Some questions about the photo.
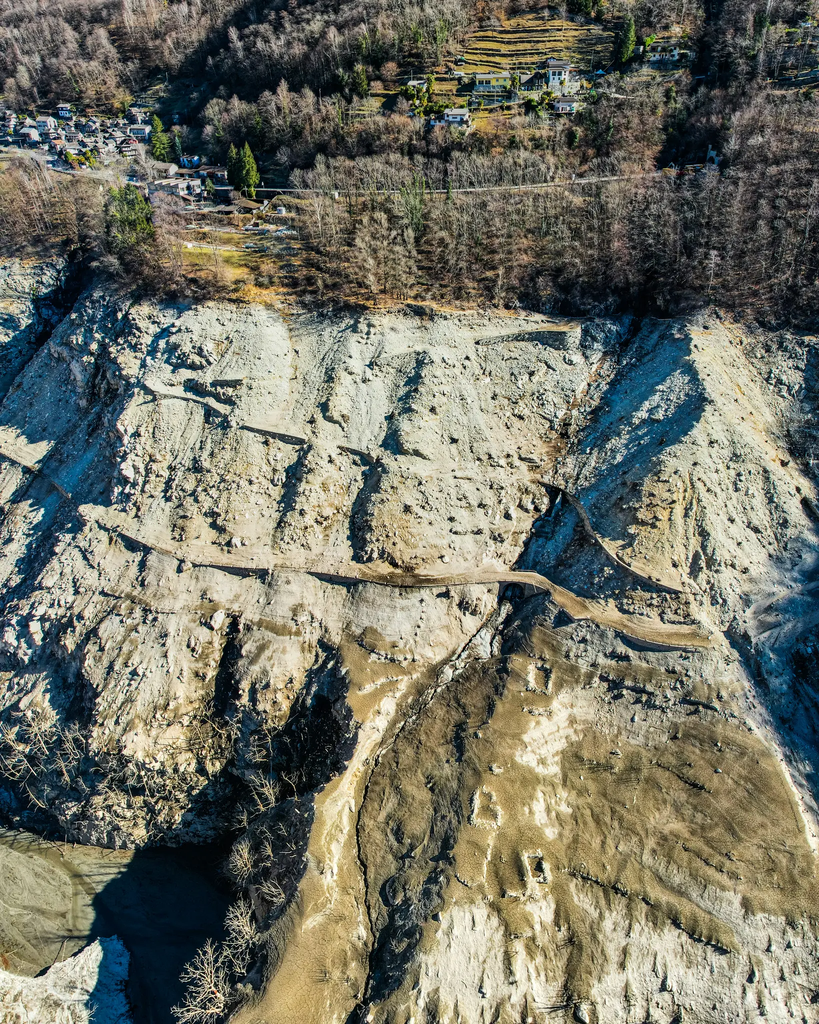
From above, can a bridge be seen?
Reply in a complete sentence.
Yes, looking at the shot, I can spot a bridge.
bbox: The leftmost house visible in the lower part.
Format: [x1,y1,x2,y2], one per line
[471,783,508,836]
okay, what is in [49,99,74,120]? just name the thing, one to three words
house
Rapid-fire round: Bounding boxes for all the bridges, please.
[484,566,543,607]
